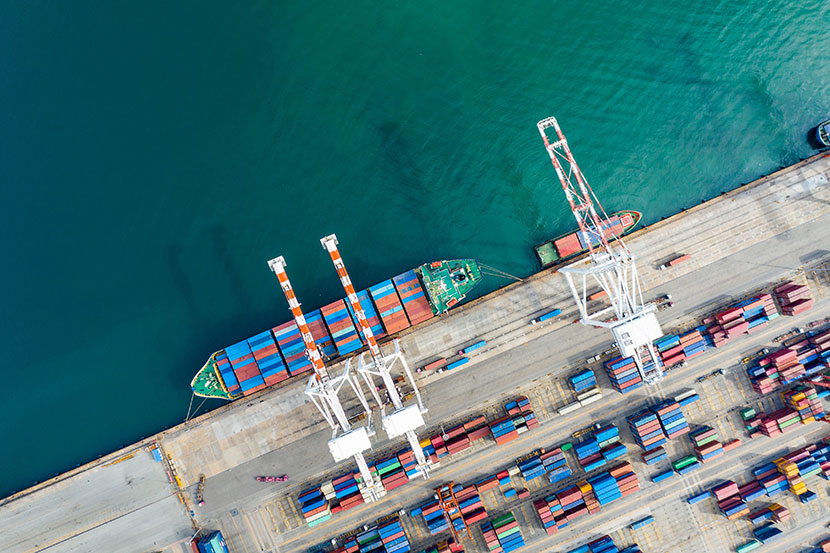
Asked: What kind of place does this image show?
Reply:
port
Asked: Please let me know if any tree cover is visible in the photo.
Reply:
No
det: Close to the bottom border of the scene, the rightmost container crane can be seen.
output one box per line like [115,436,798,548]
[434,484,473,547]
